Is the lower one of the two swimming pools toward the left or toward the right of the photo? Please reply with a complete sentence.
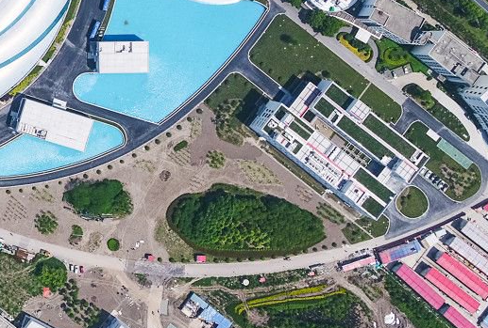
It is on the left.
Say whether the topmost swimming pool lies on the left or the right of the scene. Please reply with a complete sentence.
The topmost swimming pool appears in the left half of the scene.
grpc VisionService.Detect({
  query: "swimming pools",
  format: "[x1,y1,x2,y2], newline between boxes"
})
[71,0,269,127]
[0,116,128,180]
